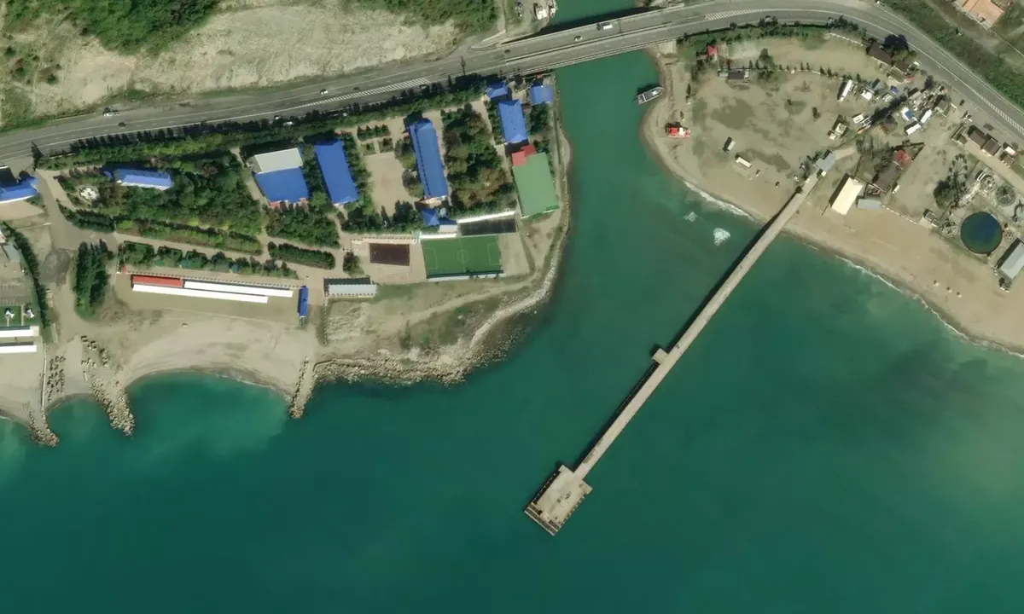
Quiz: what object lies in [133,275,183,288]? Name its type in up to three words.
shed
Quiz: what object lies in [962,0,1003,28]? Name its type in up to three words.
house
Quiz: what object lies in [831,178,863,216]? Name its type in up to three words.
building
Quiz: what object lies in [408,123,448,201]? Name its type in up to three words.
building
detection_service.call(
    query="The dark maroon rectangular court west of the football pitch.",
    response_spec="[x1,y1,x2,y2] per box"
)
[370,243,410,265]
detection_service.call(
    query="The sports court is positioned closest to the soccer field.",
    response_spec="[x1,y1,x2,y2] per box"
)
[459,217,518,236]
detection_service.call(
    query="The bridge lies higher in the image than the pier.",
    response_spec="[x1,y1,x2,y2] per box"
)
[500,4,681,74]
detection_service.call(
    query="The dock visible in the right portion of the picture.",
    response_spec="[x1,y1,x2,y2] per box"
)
[524,161,824,536]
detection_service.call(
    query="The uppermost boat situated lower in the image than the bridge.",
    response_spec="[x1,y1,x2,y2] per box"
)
[638,88,661,103]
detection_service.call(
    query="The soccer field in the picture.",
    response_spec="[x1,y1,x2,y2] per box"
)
[421,235,503,277]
